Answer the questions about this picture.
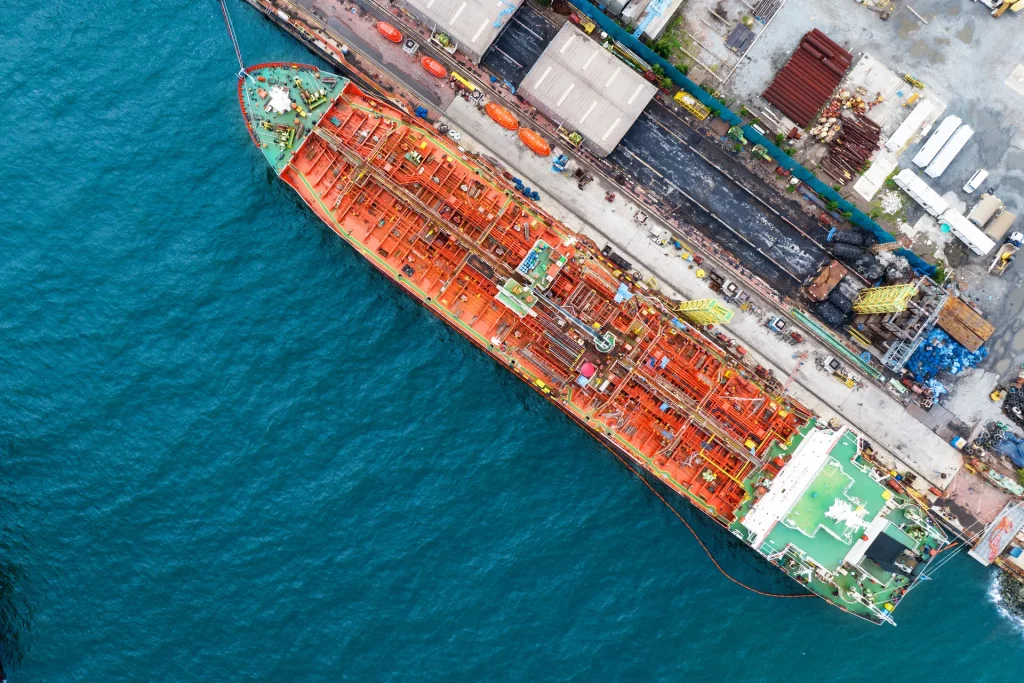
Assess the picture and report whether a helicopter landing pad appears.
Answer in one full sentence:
No, the picture doesn't show any helicopter landing pad.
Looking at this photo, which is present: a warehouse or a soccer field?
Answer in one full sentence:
There is a warehouse in the scene.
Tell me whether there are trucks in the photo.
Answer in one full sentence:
Yes, there's a truck here.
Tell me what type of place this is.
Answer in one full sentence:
The area seen from above is a port.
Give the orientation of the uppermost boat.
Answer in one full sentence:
In this picture, the uppermost boat is oriented diagonally.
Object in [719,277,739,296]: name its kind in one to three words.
work vehicle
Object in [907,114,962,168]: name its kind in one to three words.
trailer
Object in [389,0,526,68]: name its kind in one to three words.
building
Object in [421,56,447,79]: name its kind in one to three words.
boat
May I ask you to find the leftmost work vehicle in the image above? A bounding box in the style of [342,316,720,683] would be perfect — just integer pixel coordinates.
[401,37,420,57]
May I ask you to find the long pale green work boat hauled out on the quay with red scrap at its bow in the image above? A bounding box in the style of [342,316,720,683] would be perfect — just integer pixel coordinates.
[968,459,1024,506]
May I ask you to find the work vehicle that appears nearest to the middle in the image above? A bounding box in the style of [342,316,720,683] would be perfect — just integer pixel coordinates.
[632,208,648,226]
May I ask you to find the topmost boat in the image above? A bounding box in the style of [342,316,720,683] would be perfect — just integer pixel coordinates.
[375,22,403,44]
